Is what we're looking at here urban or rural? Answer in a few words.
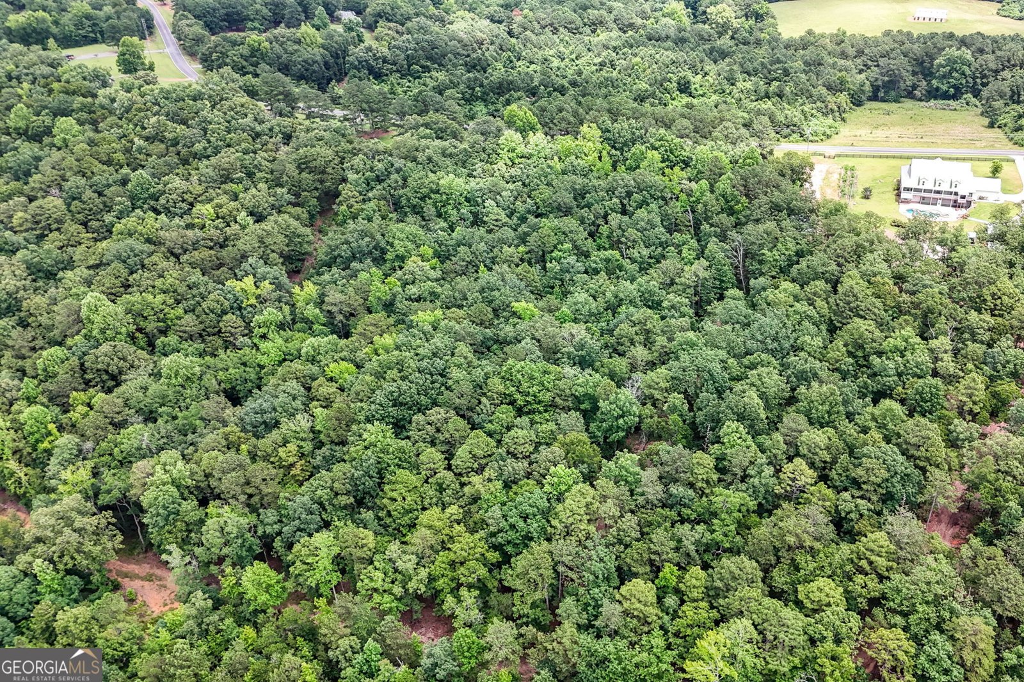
rural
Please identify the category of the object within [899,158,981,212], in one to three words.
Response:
house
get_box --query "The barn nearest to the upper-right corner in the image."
[911,9,949,22]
